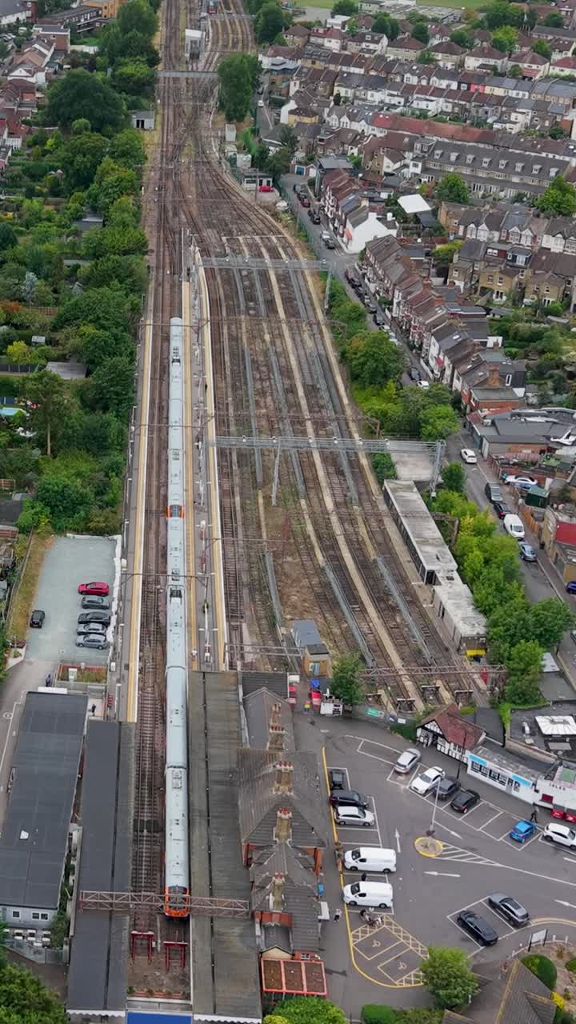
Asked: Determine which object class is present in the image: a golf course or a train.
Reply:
train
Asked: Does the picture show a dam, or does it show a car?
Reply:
car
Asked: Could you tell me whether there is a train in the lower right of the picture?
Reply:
No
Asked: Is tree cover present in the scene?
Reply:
Yes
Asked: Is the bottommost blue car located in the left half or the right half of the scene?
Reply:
right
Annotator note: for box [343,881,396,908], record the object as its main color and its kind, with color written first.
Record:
white vehicle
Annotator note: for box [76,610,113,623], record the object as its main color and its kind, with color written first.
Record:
gray vehicle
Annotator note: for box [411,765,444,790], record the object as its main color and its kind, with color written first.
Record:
white car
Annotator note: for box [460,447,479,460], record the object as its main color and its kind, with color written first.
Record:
white vehicle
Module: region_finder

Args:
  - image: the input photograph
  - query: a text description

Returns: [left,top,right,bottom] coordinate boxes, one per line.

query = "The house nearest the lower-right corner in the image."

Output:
[488,961,560,1024]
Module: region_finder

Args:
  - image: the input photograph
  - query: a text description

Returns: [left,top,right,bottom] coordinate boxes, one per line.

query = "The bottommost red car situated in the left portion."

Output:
[78,579,110,594]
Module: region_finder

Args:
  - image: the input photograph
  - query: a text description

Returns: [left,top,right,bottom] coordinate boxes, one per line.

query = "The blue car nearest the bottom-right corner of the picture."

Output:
[509,815,542,841]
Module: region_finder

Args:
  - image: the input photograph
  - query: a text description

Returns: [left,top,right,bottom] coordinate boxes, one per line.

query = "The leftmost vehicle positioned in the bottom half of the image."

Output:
[29,606,46,625]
